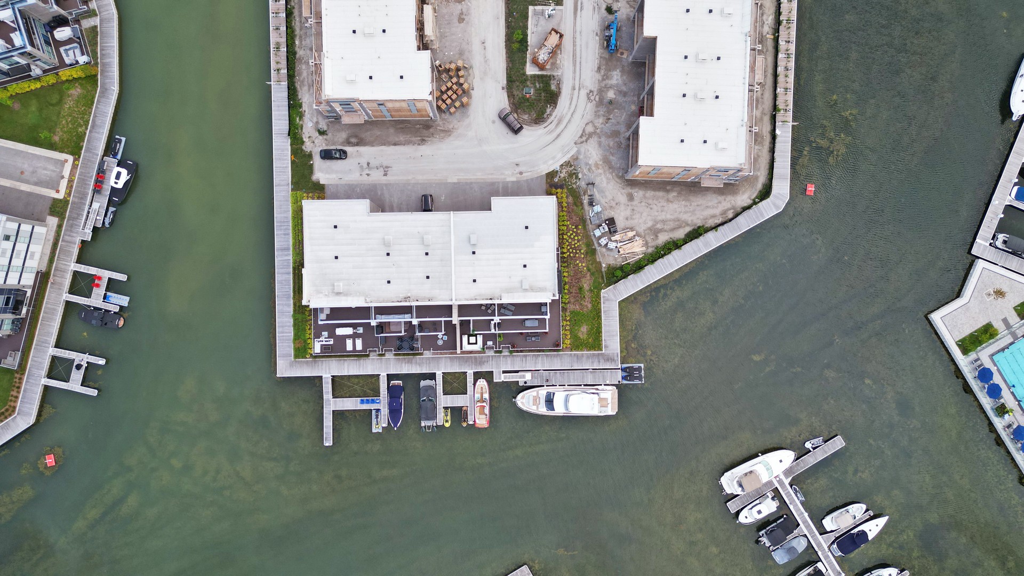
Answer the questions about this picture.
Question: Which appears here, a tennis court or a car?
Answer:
car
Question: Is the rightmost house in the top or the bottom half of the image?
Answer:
top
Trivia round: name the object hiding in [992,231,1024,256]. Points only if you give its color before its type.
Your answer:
gray boat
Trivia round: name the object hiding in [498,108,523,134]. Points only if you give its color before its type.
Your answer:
gray car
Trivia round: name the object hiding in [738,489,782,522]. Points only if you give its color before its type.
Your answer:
white boat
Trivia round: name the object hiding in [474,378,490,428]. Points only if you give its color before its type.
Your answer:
white boat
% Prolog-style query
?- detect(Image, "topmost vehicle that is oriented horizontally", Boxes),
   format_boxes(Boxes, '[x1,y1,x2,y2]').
[320,148,347,161]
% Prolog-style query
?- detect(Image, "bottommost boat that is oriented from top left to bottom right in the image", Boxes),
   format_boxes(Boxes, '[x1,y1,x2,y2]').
[792,485,806,501]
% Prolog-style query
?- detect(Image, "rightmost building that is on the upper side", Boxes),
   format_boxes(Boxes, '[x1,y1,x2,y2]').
[625,0,764,188]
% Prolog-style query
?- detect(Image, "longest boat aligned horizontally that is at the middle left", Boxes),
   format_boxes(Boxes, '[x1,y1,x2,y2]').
[77,308,127,328]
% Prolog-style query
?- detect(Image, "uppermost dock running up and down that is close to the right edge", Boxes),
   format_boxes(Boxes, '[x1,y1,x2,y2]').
[970,122,1024,274]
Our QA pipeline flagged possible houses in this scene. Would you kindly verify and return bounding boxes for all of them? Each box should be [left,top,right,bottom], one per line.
[302,196,562,354]
[0,0,96,89]
[0,208,50,368]
[625,0,764,188]
[307,0,440,125]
